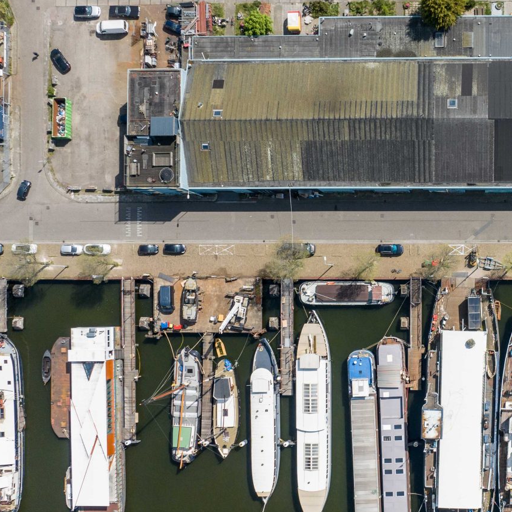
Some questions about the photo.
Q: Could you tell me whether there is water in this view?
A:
Yes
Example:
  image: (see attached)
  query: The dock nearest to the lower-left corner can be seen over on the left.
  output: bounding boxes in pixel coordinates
[51,337,72,439]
